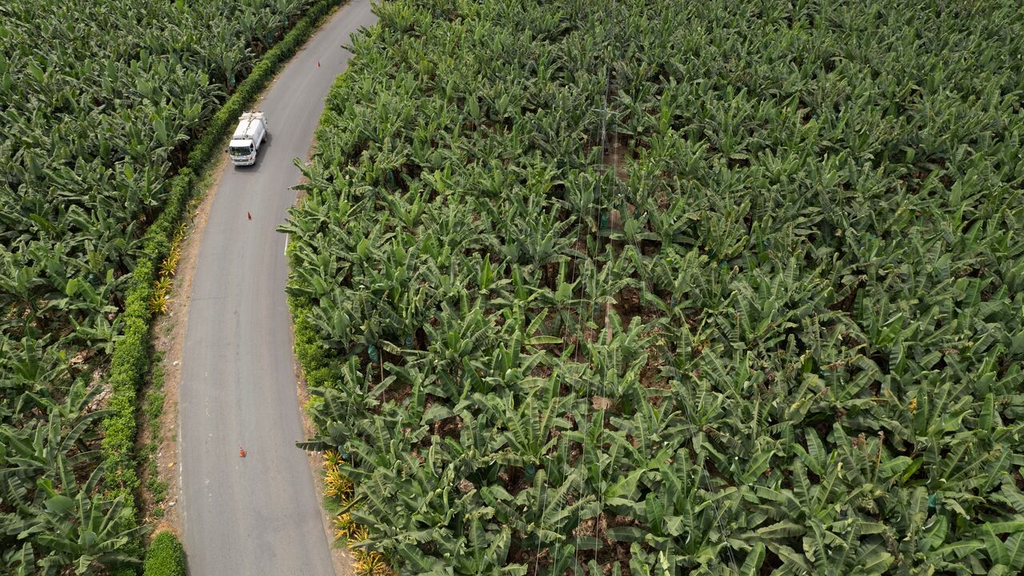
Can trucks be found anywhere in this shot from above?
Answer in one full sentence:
Yes, this view includes a truck.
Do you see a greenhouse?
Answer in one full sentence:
No, the scene contains no greenhouse.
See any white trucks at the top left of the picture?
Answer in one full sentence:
Yes, a white truck can be seen at the top left of the picture.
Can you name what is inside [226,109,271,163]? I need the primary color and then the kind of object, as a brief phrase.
white truck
